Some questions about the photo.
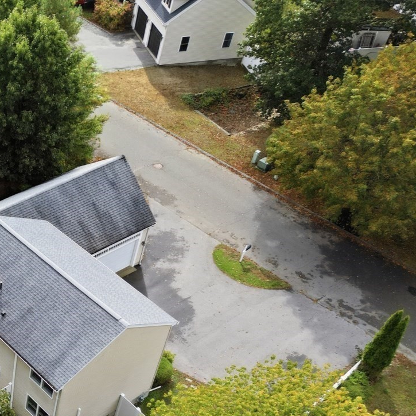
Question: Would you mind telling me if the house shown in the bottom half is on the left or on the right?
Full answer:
The house shown in the bottom half sits on the left side.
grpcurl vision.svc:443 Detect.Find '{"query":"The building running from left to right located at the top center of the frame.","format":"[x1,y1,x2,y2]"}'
[120,0,257,65]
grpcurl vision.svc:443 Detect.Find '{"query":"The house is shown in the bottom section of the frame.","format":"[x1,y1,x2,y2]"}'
[0,154,177,416]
